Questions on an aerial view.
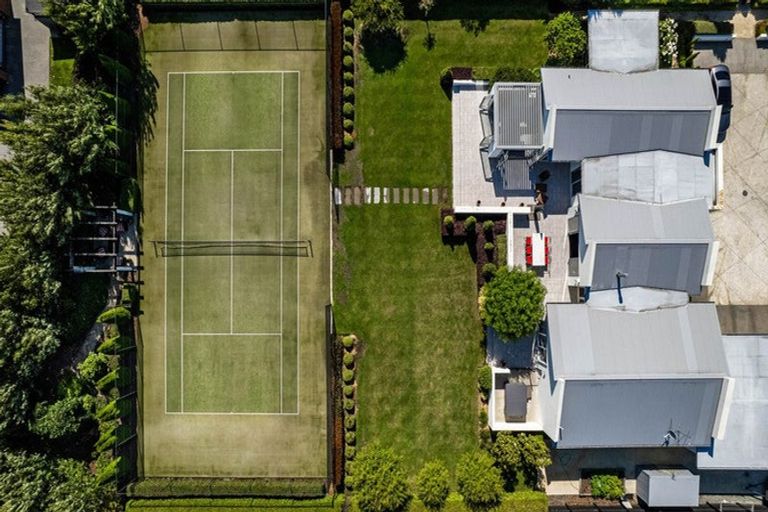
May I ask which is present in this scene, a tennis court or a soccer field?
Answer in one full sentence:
The one in the frame is a tennis court.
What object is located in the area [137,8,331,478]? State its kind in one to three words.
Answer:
tennis court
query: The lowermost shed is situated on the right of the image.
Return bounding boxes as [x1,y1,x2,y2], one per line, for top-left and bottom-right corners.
[635,464,700,506]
